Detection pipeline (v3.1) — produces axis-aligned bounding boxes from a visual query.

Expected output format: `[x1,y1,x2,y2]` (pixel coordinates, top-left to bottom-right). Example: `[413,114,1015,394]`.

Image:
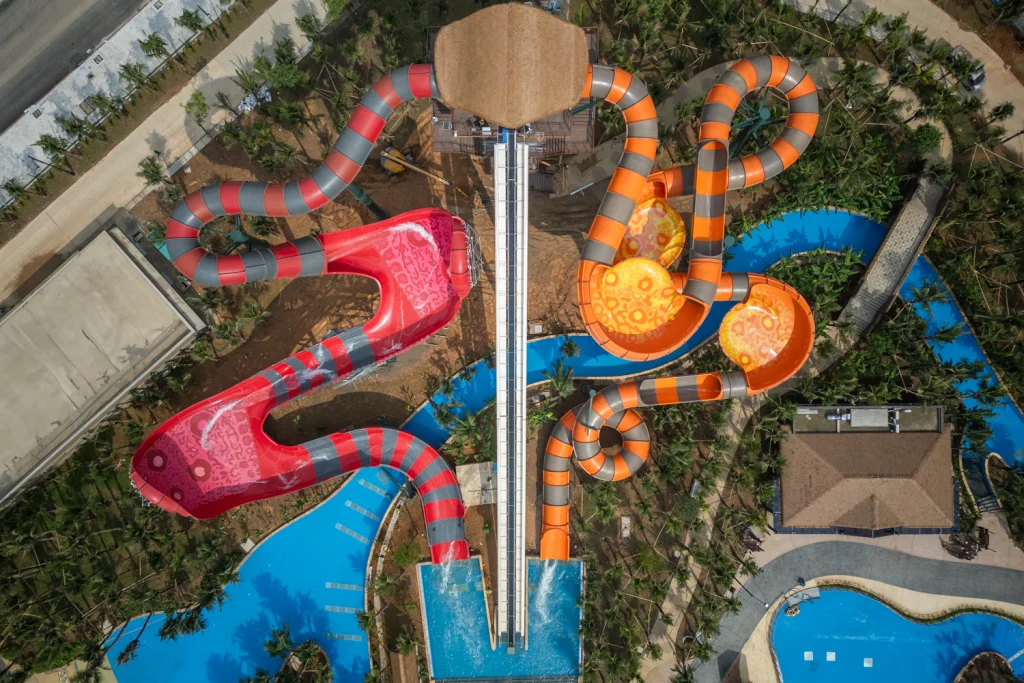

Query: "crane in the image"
[383,141,470,198]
